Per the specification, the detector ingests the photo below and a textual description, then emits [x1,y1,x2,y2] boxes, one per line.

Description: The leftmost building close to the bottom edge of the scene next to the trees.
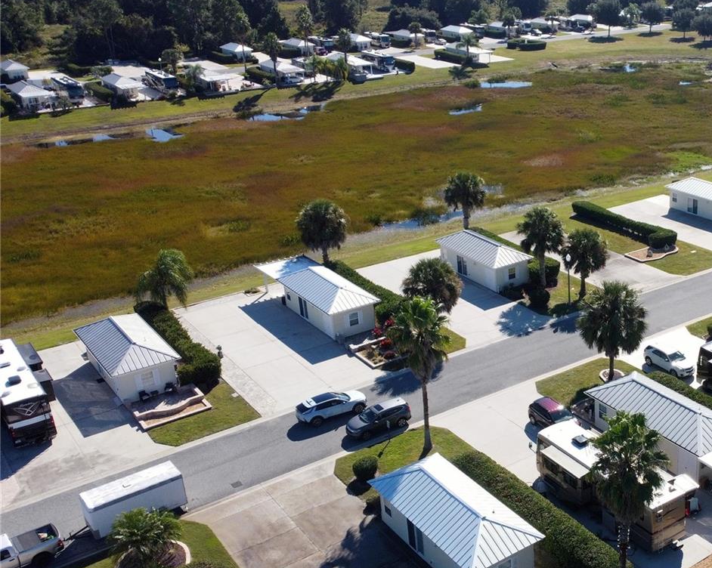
[367,453,549,568]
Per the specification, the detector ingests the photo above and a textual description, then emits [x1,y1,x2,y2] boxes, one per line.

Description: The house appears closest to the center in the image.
[250,253,384,344]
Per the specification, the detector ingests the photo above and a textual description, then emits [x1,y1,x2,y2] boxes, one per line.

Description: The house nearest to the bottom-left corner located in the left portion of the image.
[71,313,182,405]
